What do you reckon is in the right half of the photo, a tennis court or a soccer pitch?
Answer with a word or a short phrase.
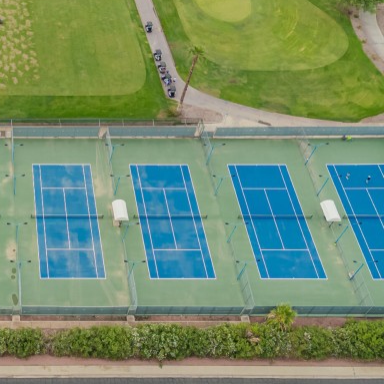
tennis court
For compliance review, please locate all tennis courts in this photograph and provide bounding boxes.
[229,165,327,279]
[130,165,216,279]
[327,165,384,278]
[30,165,106,279]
